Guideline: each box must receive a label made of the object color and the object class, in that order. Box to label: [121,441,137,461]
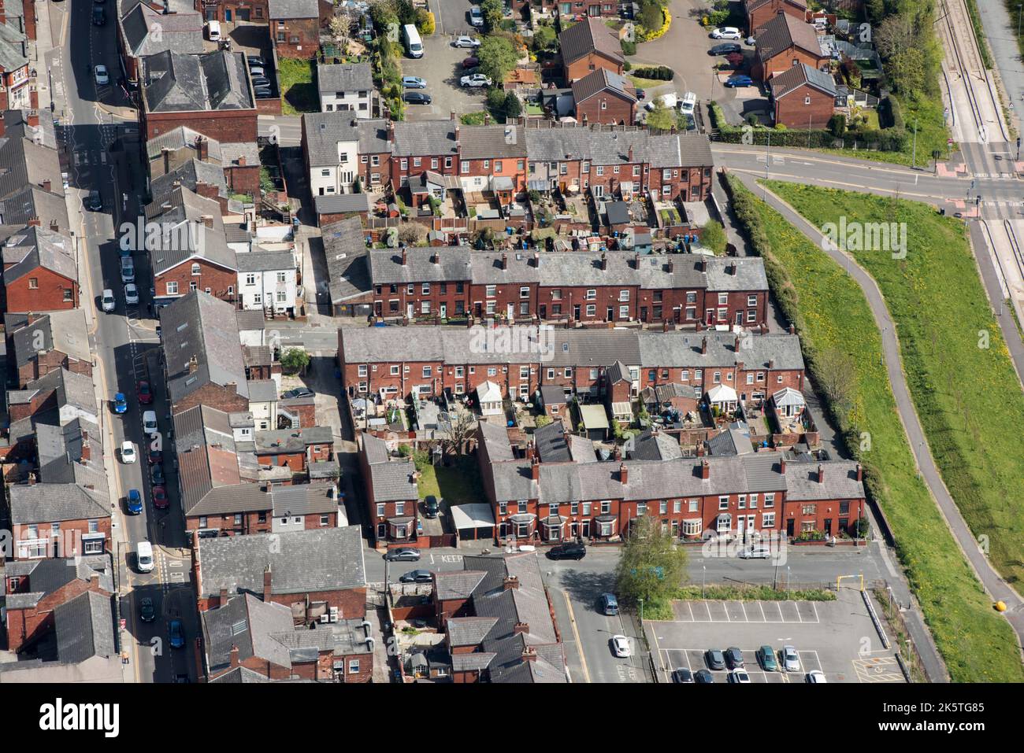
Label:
white car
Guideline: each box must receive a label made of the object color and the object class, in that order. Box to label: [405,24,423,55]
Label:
white vehicle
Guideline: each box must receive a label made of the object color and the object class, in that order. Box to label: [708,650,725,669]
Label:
gray car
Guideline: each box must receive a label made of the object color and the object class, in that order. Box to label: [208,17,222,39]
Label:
white vehicle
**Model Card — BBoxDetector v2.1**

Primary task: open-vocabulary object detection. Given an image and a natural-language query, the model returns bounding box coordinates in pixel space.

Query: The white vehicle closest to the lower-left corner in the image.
[137,539,155,570]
